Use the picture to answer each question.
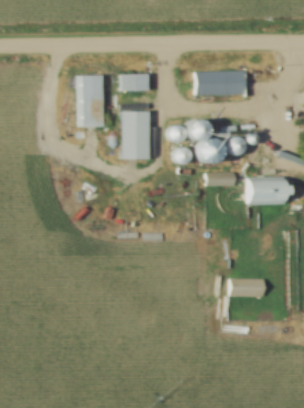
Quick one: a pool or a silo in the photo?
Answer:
silo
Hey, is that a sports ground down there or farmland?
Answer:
farmland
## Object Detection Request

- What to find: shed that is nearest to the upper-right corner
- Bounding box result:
[193,70,250,96]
